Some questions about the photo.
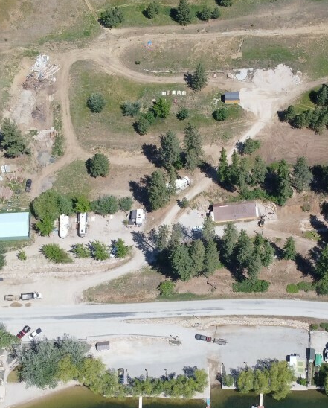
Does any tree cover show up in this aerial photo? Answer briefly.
Yes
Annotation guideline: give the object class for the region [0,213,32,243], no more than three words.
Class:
barn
